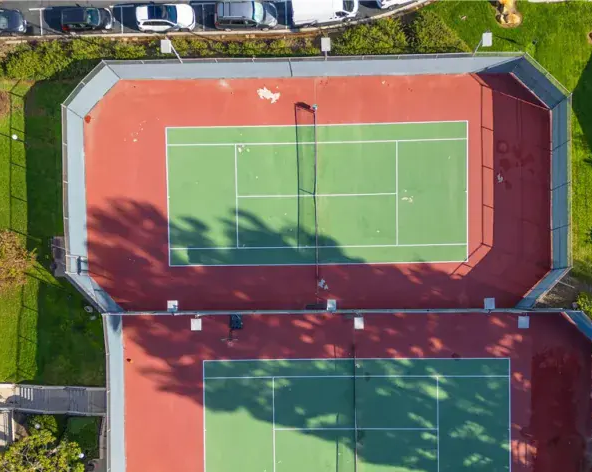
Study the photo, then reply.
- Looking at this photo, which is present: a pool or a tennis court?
tennis court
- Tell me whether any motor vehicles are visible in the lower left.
No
